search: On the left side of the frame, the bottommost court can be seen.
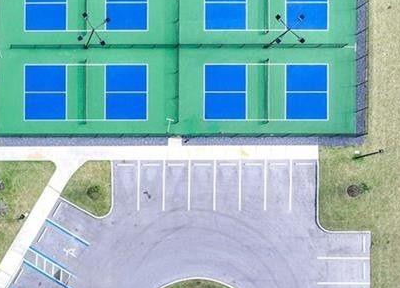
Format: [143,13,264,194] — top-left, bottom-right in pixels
[0,48,179,136]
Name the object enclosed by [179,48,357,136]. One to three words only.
sports court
